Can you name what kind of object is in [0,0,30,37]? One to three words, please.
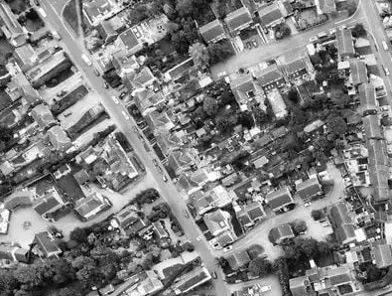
house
